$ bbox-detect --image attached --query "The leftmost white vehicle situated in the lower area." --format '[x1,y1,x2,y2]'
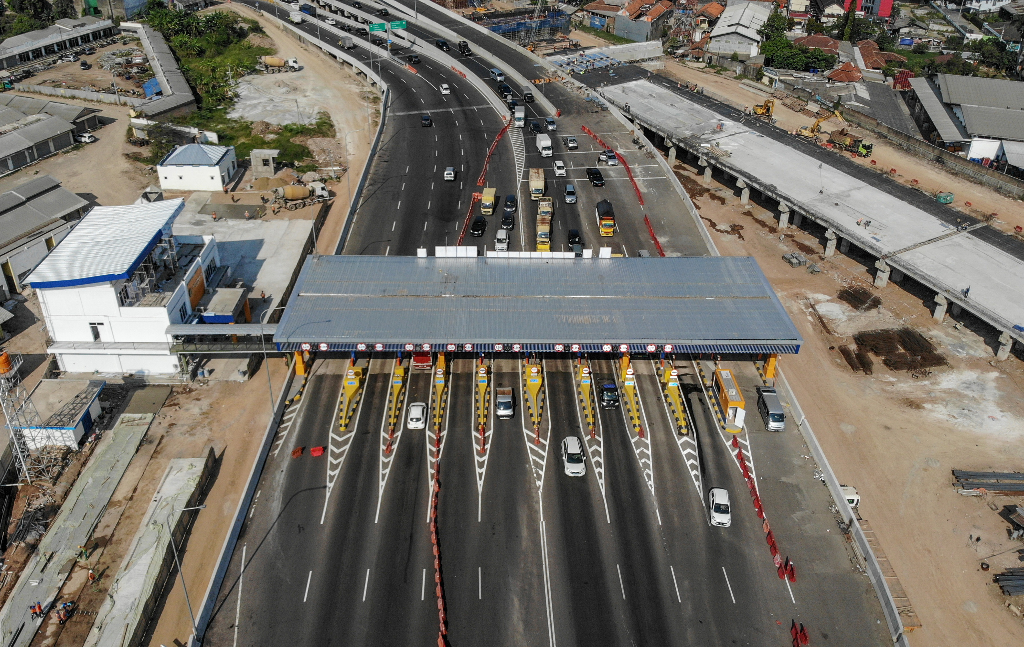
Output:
[405,405,428,432]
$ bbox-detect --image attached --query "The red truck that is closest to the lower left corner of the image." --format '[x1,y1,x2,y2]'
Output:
[411,352,432,373]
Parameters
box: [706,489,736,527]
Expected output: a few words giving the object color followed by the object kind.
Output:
white car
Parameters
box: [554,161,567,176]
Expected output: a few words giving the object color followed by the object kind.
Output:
white vehicle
